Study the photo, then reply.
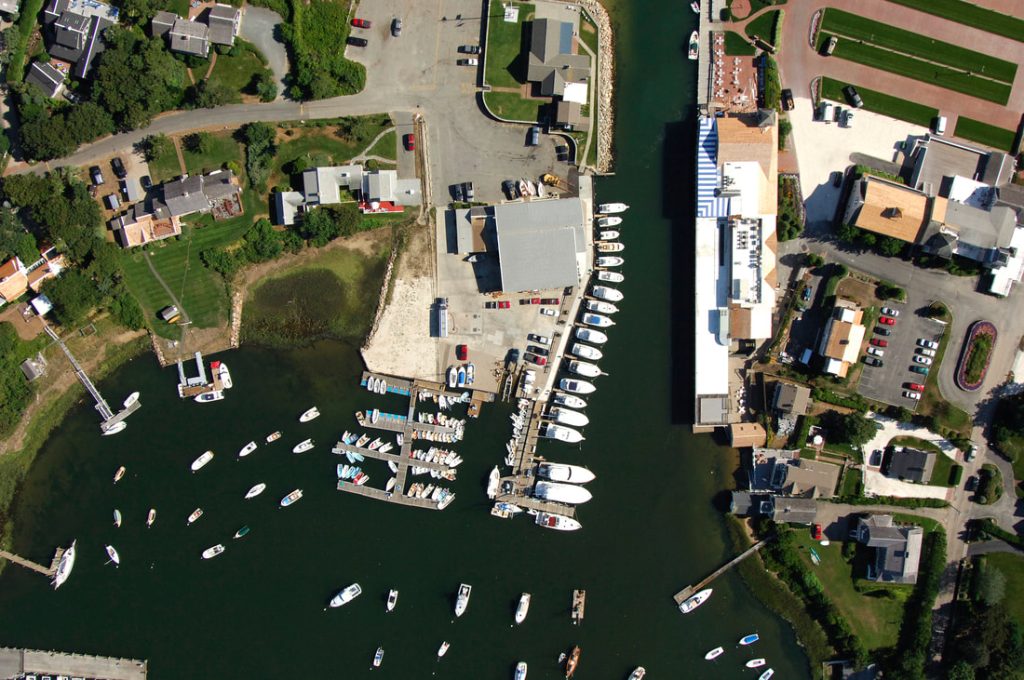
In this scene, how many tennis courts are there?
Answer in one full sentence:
I count no tennis courts.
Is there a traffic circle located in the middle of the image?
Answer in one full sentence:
No, no traffic circle is visible in the middle of the image.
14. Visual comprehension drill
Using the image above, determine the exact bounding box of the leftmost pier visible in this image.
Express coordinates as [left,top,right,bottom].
[0,547,65,577]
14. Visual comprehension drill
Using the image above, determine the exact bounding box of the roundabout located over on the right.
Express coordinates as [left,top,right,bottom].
[955,319,998,391]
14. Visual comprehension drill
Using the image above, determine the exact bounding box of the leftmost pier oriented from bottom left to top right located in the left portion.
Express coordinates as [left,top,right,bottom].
[100,401,142,432]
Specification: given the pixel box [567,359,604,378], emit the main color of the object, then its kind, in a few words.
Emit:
white boat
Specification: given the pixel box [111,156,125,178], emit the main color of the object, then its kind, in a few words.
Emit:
black car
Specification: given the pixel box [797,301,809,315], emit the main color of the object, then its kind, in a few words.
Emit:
gray vehicle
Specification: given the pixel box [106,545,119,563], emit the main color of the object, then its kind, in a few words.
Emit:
white boat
